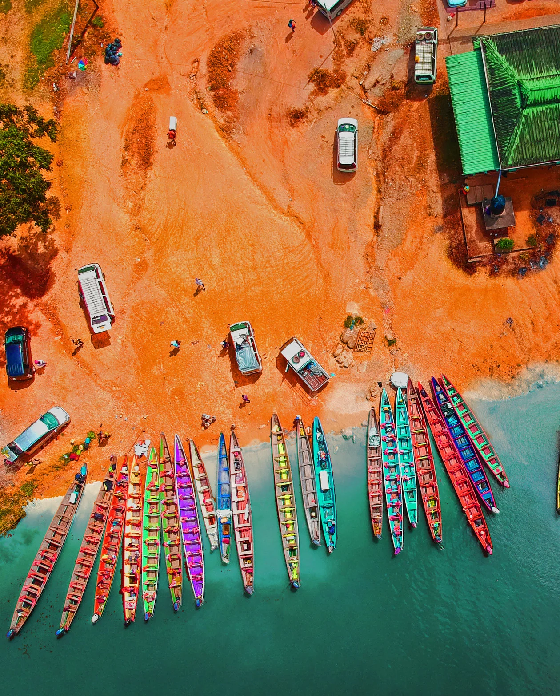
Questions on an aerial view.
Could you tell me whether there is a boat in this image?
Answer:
Yes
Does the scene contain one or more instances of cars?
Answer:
Yes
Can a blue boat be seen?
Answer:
Yes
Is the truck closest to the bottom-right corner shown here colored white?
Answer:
Yes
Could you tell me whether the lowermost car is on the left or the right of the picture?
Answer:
left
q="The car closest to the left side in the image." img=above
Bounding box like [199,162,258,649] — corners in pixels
[2,319,38,379]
